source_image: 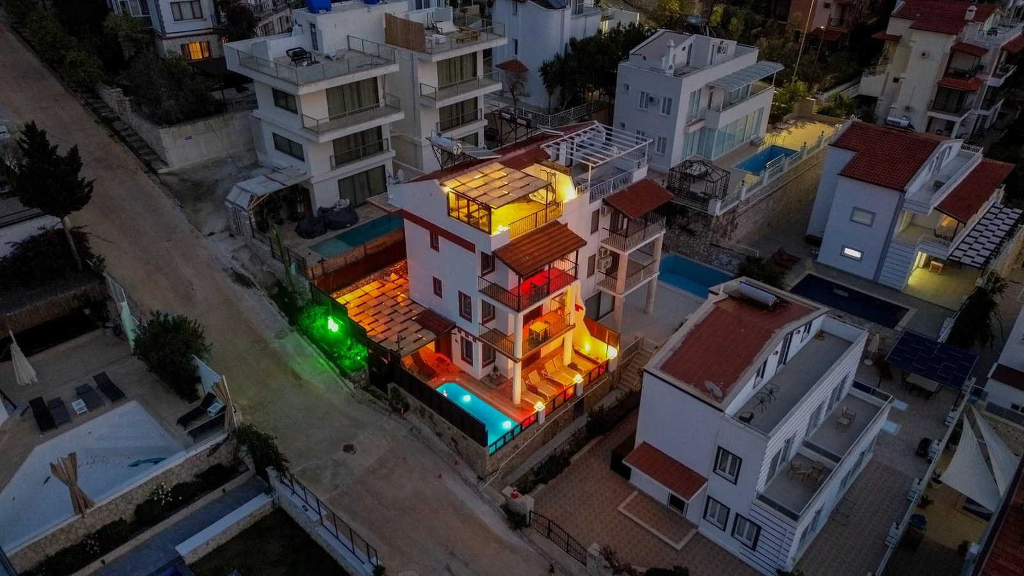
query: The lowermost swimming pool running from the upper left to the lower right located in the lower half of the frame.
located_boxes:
[430,379,523,449]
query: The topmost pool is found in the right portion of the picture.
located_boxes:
[729,145,801,175]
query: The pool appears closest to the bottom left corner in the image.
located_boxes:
[0,402,186,548]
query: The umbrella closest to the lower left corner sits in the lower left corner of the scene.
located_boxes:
[44,467,88,520]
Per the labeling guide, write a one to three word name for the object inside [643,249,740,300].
swimming pool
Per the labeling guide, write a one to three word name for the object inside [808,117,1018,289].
house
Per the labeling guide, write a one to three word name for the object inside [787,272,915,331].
swimming pool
